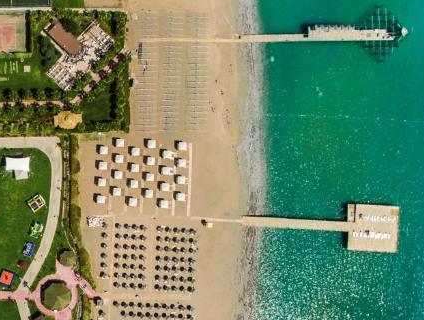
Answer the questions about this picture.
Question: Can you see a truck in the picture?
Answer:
No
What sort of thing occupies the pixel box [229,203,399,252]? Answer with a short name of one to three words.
pier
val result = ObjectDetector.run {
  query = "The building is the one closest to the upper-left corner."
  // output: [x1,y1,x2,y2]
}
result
[46,20,82,58]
